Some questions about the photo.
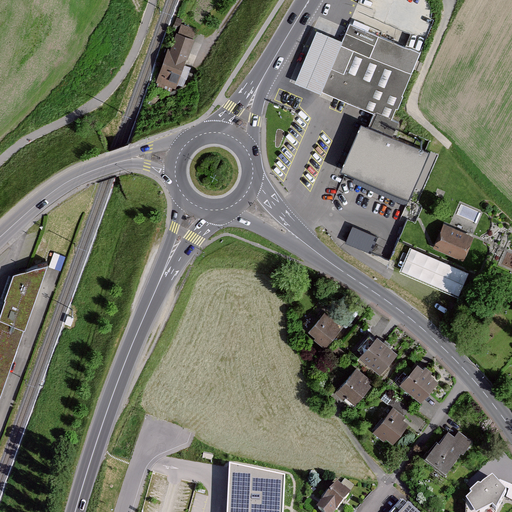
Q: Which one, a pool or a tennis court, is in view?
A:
pool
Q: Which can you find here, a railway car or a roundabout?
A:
roundabout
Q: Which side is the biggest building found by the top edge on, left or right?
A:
right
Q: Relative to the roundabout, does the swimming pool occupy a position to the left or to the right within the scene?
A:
right of it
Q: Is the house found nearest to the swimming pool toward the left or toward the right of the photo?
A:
right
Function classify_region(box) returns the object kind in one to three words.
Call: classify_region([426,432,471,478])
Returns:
house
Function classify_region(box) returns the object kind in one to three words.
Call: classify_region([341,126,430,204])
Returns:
building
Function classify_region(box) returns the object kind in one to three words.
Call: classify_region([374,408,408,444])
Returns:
house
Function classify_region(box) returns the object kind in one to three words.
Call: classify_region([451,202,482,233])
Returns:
swimming pool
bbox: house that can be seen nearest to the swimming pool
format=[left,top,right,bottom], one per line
[433,222,474,261]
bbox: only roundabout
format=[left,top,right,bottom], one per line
[162,120,266,223]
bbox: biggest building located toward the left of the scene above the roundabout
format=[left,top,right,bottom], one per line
[157,34,194,90]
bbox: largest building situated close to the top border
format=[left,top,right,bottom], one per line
[322,24,421,119]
